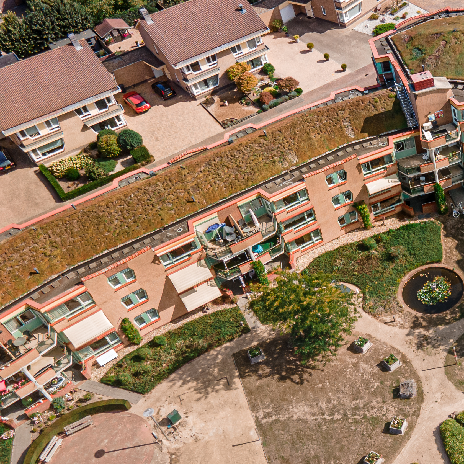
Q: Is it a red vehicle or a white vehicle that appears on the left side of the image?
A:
red vehicle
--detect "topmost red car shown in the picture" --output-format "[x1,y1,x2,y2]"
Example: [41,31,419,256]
[121,90,148,110]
